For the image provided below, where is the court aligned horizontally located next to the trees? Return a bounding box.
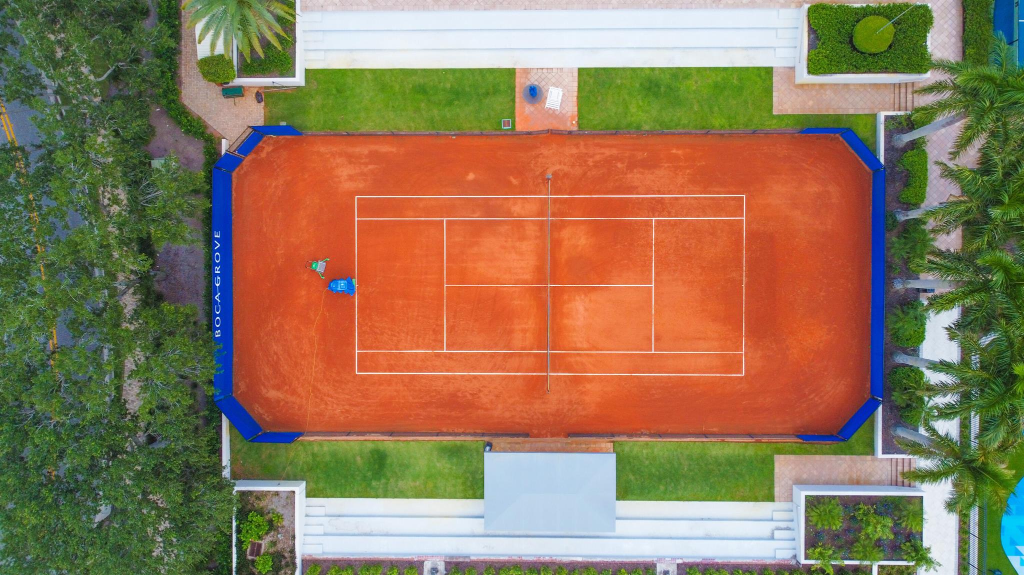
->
[232,134,873,438]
